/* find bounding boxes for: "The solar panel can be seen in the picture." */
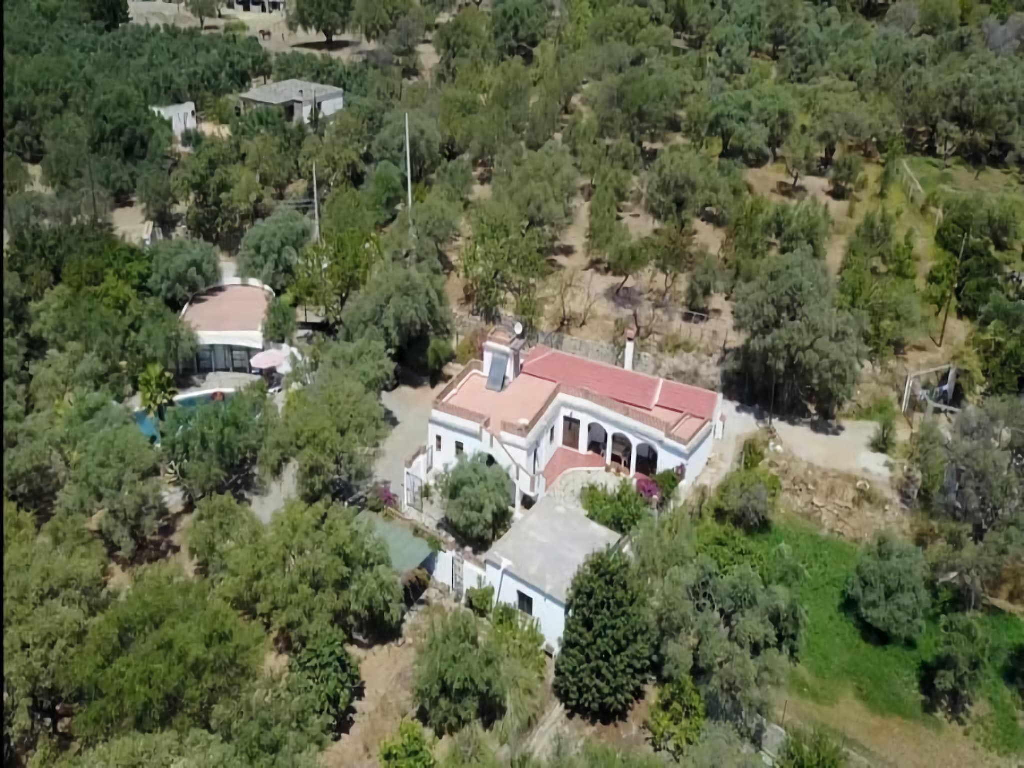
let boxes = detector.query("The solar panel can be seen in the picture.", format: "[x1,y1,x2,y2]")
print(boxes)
[487,355,508,392]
